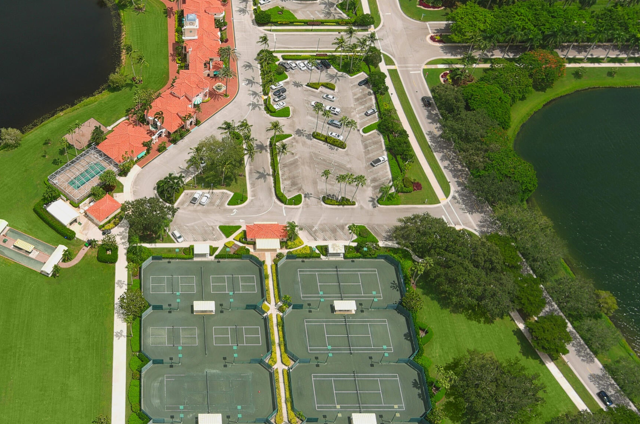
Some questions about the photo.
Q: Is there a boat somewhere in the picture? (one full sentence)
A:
No, this view has no boat in it.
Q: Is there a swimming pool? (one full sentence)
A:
Yes, there is a swimming pool in the image.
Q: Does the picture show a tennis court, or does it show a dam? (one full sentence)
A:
I can see a tennis court in this picture.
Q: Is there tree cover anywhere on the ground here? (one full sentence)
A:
Yes, tree cover can be seen from above here.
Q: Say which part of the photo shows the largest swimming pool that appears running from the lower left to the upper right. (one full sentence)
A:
The largest swimming pool that appears running from the lower left to the upper right is located in the left region of the scene.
